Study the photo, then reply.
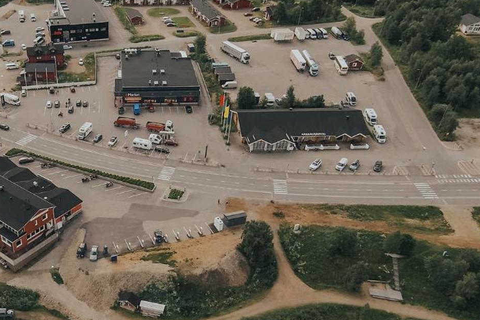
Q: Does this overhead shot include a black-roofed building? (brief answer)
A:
Yes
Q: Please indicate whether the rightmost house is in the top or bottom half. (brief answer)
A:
top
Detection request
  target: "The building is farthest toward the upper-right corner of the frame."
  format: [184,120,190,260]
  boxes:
[448,13,480,38]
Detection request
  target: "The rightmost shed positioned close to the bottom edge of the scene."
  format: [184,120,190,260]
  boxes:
[143,301,167,320]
